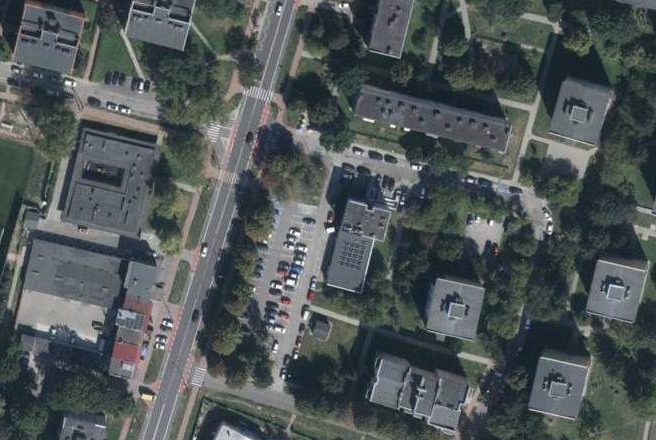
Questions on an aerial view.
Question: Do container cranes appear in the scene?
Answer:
No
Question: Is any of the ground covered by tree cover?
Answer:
Yes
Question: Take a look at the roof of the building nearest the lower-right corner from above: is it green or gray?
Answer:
gray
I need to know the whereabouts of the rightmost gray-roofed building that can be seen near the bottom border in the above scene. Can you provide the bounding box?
[529,349,588,420]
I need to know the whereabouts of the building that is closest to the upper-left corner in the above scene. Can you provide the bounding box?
[13,0,87,75]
